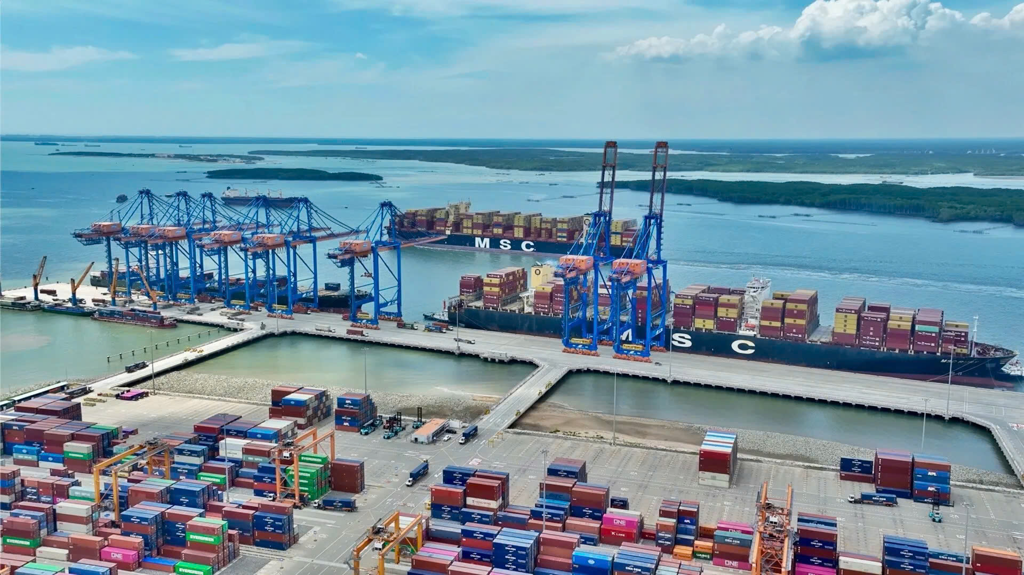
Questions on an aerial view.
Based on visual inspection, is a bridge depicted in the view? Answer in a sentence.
Yes, there's a bridge here.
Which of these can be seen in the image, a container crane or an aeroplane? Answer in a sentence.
This aerial view contains a container crane.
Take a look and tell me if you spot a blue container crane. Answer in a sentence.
Yes, the picture does show a blue container crane.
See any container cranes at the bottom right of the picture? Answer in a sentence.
Yes, a container crane appears at the bottom right of the picture.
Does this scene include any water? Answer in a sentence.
Yes, some water is visible.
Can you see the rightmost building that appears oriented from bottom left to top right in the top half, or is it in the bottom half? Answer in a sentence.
Seen from above, the rightmost building that appears oriented from bottom left to top right lies in the bottom half of the view.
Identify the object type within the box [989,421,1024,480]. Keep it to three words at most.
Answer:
bridge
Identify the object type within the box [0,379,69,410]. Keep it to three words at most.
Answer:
shed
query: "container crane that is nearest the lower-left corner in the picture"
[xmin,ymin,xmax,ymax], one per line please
[90,439,172,520]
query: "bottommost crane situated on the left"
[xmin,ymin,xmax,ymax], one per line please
[342,508,427,575]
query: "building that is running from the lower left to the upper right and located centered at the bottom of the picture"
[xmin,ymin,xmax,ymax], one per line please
[407,411,454,441]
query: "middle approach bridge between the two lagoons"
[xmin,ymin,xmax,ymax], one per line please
[465,364,570,427]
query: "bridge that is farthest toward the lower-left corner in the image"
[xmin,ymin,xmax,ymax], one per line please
[90,329,280,388]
